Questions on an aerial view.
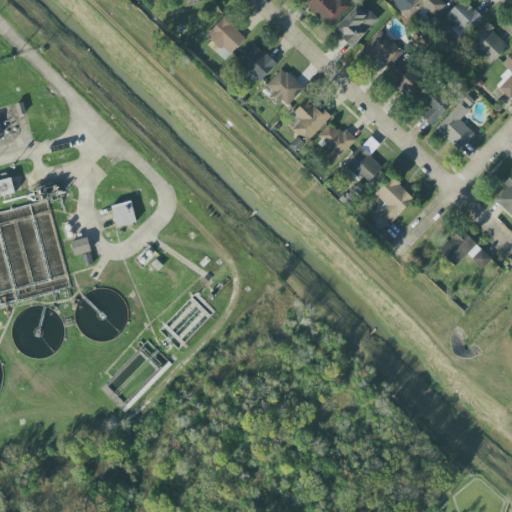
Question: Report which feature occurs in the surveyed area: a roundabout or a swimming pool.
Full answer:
I can see a swimming pool in this picture.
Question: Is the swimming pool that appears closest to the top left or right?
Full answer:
You can find the swimming pool that appears closest to the top on the right side of the picture.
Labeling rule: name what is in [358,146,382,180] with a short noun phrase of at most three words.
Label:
house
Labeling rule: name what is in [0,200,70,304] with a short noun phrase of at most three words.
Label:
water tank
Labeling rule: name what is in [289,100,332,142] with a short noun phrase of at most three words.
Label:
house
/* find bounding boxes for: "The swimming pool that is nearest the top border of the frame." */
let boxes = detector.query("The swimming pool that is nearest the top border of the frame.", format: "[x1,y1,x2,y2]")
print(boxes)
[386,16,410,44]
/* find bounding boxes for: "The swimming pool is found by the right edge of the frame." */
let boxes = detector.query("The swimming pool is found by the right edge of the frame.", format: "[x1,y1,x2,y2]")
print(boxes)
[470,98,488,126]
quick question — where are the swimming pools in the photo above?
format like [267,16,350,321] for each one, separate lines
[470,98,488,126]
[386,16,410,44]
